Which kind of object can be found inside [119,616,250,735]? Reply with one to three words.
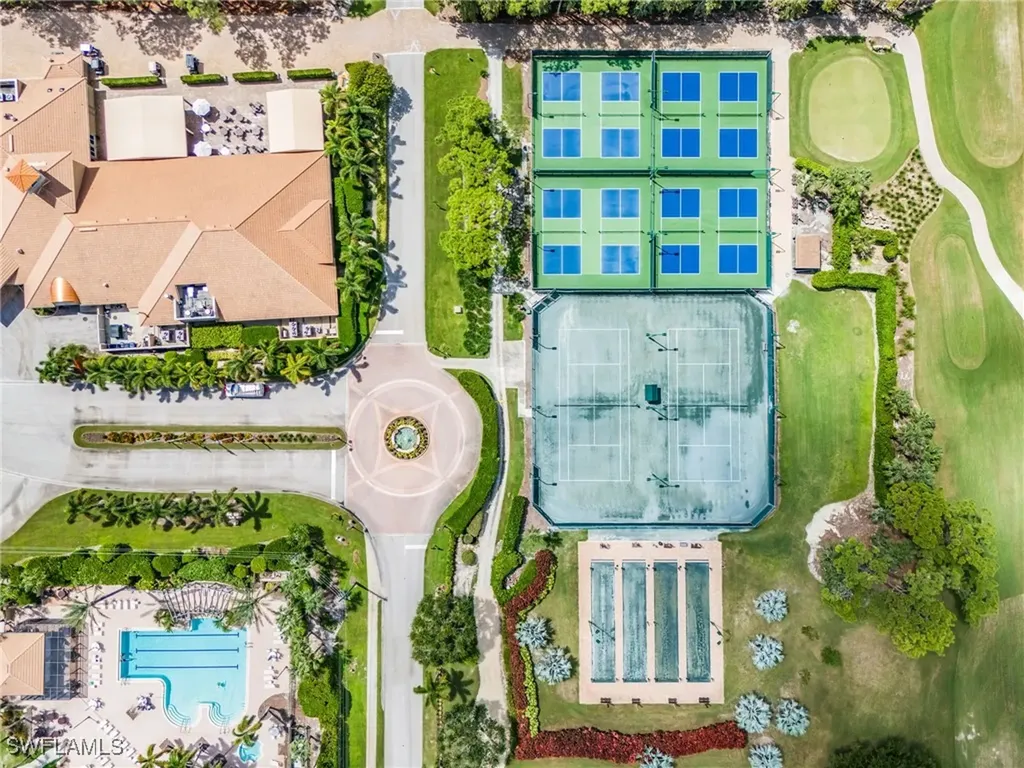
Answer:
swimming pool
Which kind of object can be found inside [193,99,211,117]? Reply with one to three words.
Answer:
umbrella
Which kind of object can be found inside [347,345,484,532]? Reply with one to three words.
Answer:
roundabout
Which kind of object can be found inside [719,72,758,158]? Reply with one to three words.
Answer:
sports court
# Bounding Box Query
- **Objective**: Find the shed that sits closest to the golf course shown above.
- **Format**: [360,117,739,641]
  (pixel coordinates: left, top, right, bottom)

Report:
[790,235,821,269]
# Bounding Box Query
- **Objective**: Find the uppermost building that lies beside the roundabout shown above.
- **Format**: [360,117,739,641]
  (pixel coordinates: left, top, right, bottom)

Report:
[0,54,340,327]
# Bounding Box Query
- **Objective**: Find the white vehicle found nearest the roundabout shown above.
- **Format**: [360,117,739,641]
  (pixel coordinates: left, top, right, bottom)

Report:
[227,382,267,398]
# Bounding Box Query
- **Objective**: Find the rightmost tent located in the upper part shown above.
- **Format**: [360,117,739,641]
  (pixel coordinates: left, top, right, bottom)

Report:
[266,88,330,157]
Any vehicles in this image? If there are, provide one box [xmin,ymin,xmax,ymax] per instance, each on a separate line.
[148,61,163,78]
[80,43,100,57]
[227,382,267,398]
[185,55,199,74]
[90,58,105,77]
